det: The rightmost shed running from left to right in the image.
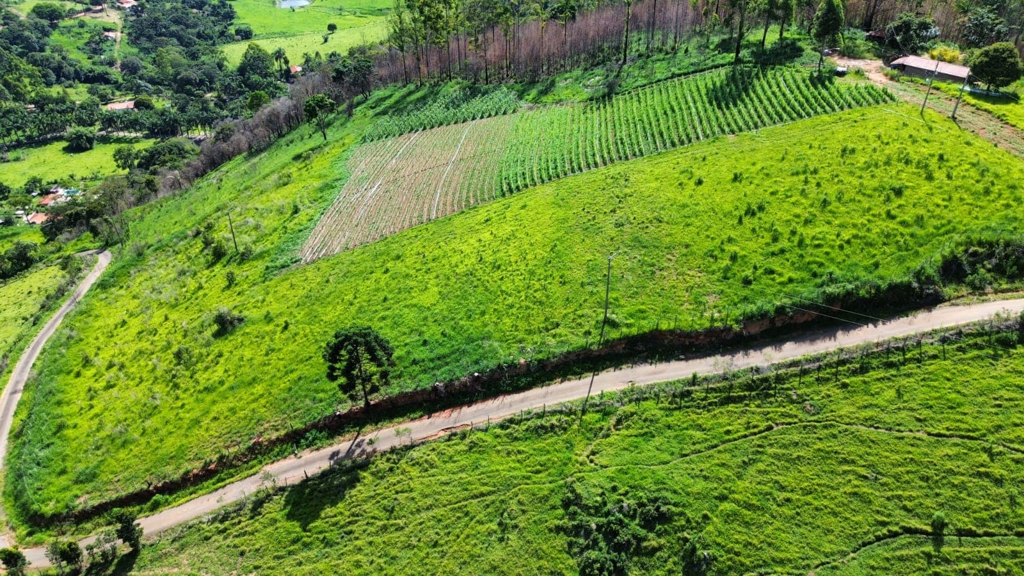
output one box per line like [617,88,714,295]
[894,55,983,86]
